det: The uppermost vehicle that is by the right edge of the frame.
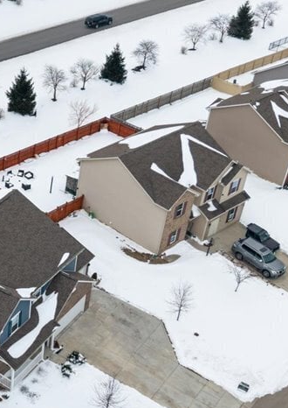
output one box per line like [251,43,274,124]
[239,217,286,254]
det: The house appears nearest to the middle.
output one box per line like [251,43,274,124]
[74,117,257,254]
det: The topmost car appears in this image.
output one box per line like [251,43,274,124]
[85,12,112,30]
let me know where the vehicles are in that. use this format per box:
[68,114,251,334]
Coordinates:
[239,217,286,254]
[232,235,285,274]
[85,12,112,30]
